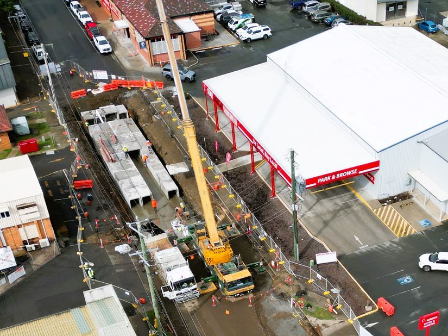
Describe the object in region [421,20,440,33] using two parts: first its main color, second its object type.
blue vehicle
